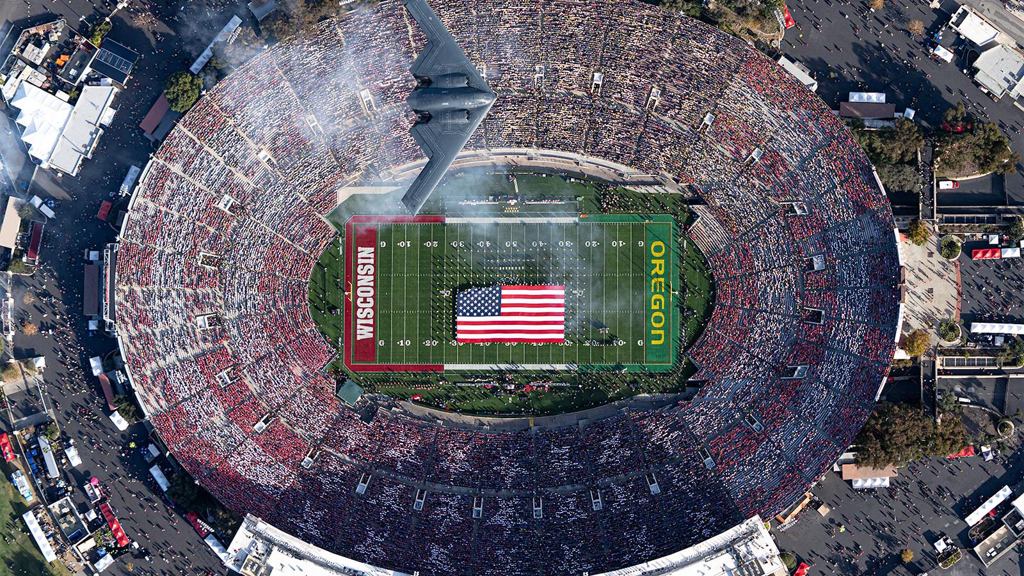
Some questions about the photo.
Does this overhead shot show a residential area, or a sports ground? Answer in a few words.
sports ground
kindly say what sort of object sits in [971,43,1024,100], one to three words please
building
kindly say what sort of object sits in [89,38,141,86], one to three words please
building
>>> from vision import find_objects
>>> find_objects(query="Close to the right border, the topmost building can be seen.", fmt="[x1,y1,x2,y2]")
[945,4,1001,47]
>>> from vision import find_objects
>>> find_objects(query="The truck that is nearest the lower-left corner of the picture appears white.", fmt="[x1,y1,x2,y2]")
[9,472,31,502]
